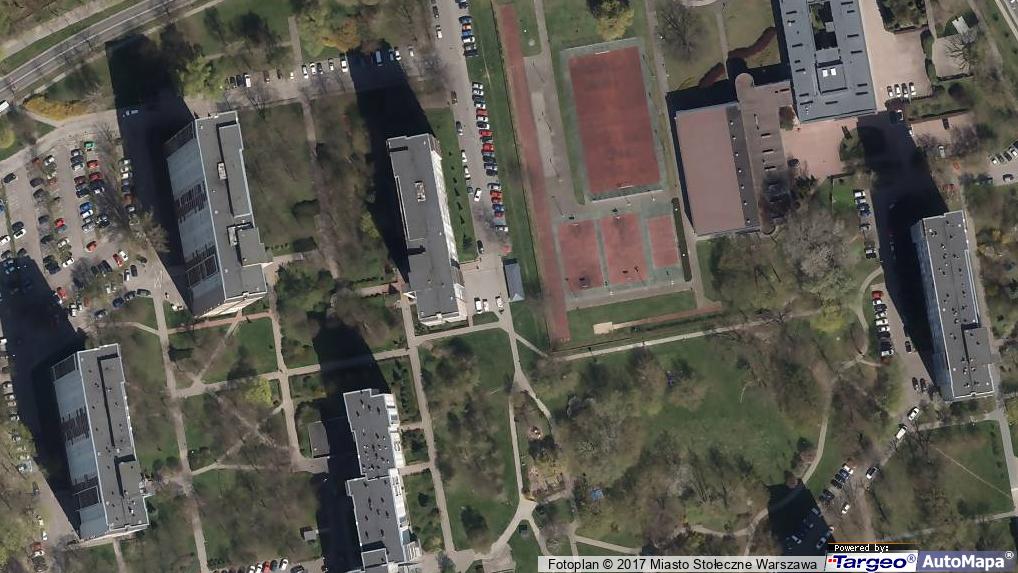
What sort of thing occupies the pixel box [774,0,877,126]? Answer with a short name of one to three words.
building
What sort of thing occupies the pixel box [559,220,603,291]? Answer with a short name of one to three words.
sports court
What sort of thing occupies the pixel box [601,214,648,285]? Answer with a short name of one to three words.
sports court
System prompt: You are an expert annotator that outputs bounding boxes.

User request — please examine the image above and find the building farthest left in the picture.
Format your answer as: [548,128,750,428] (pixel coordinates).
[57,343,149,543]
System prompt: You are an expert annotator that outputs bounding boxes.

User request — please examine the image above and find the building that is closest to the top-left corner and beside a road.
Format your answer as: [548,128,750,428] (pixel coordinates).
[175,111,271,312]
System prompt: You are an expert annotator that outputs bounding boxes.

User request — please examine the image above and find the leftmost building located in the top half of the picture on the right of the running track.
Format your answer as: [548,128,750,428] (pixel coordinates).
[671,102,760,239]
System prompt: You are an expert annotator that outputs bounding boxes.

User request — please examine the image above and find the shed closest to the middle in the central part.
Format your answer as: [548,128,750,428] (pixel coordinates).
[505,263,524,302]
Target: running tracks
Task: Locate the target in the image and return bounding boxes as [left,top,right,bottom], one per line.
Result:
[501,3,570,340]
